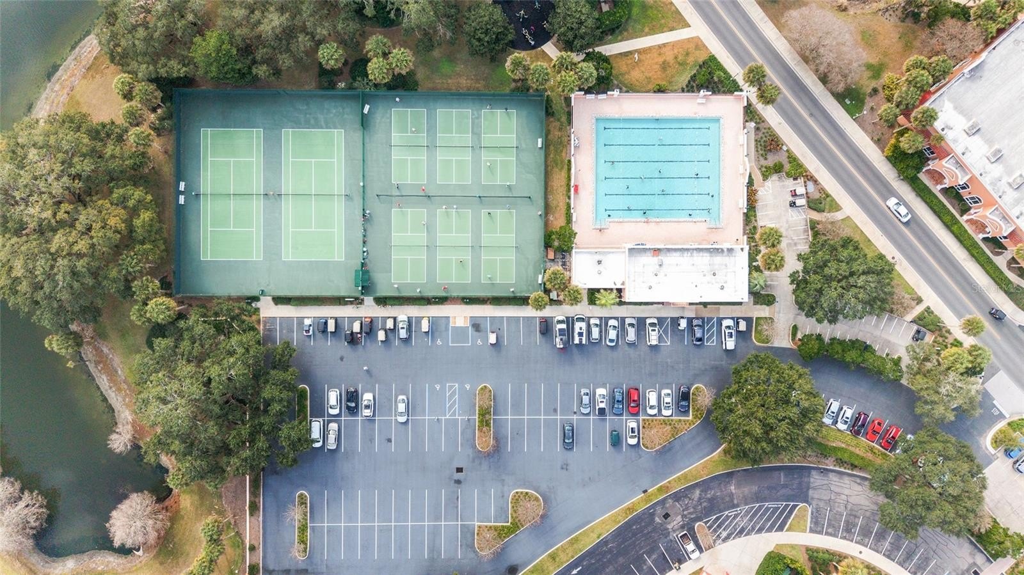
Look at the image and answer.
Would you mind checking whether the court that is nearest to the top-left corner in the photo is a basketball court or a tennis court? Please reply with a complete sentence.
Looking closely, the court that is nearest to the top-left corner is a tennis court.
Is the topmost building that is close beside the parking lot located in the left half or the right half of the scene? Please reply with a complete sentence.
The topmost building that is close beside the parking lot appears in the right half of the scene.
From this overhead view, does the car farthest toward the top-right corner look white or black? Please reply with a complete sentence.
From above, the car farthest toward the top-right corner appears white.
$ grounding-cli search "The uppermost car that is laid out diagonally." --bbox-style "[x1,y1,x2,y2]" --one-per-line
[885,197,910,223]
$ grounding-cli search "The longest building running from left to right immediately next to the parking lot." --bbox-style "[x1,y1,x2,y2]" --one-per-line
[571,247,748,307]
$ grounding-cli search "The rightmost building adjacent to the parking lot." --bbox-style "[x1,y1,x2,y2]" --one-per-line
[898,18,1024,272]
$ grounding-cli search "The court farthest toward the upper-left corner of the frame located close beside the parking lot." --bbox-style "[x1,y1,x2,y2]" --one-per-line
[192,129,268,260]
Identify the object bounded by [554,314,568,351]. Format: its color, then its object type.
white vehicle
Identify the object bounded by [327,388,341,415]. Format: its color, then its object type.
white car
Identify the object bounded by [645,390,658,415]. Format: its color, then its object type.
white vehicle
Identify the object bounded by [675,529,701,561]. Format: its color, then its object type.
white truck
